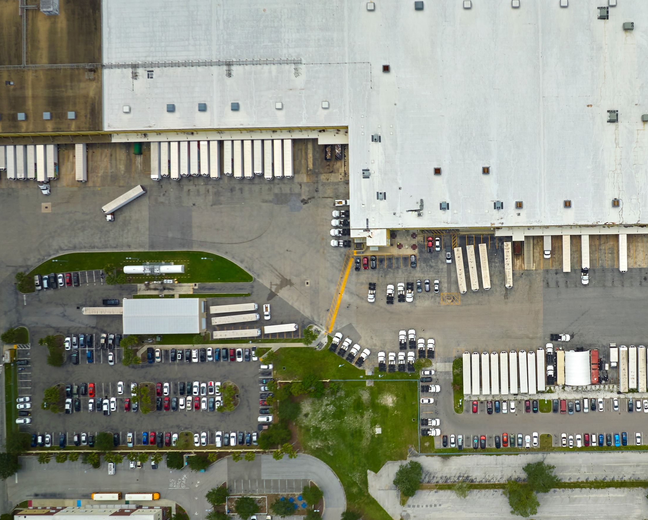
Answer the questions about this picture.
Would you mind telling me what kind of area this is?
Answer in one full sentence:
The picture captures an industrial area.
